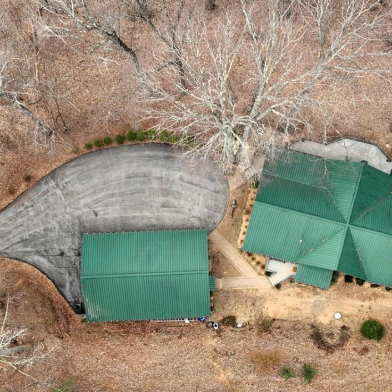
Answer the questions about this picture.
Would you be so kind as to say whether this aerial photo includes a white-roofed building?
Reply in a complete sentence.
No, this view has no white-roofed building in it.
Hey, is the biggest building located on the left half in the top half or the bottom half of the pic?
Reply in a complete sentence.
The biggest building located on the left half is in the bottom half of the image.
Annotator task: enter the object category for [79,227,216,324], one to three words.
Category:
building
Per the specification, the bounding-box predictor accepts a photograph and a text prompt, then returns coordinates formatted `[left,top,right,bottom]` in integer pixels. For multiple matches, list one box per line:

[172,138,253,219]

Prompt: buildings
[242,137,392,291]
[79,227,216,324]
